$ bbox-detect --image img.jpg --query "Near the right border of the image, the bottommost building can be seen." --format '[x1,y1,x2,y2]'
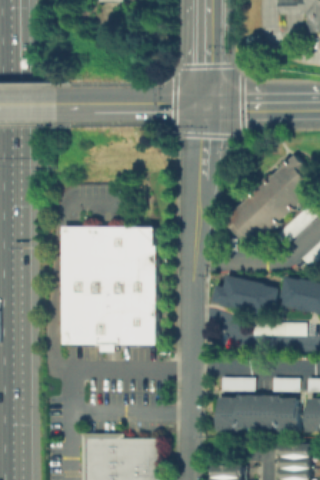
[278,444,309,480]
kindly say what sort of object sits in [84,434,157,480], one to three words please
building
